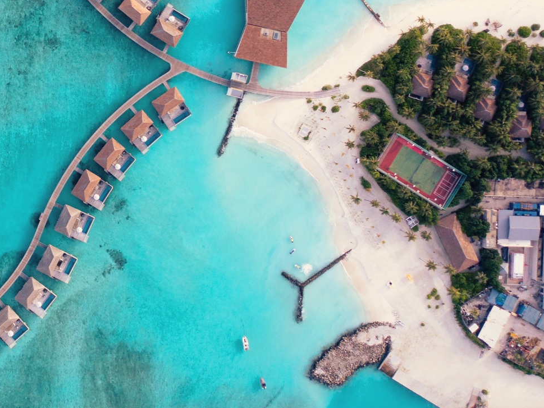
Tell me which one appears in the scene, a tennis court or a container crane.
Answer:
tennis court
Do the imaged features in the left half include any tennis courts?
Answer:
No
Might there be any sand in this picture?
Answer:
Yes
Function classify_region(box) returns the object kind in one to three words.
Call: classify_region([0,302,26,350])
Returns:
house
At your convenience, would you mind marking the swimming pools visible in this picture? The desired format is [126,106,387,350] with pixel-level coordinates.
[99,185,114,205]
[144,133,162,149]
[65,257,79,277]
[463,58,475,73]
[172,111,192,127]
[492,79,502,94]
[82,216,95,236]
[120,157,137,175]
[42,294,58,313]
[170,7,190,22]
[12,326,30,343]
[518,97,529,110]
